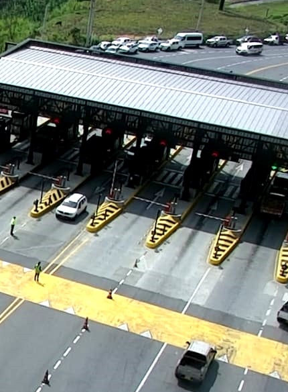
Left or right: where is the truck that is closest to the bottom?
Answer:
right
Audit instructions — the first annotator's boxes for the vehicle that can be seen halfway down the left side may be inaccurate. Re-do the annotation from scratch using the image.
[56,190,87,222]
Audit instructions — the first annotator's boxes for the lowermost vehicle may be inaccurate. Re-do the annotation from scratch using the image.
[172,343,218,389]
